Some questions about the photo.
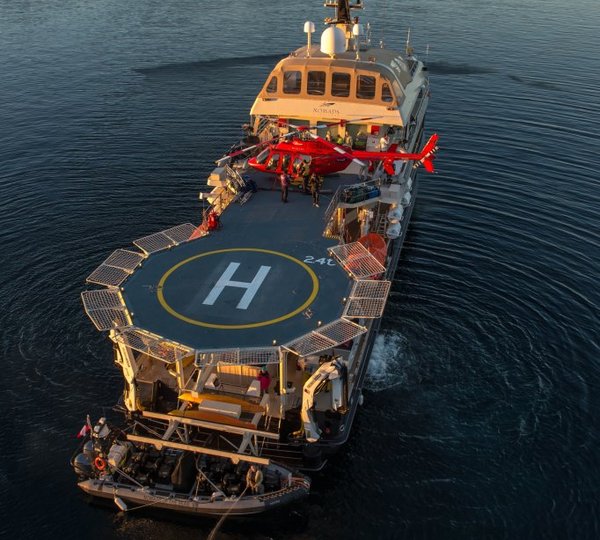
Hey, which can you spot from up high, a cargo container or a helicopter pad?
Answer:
helicopter pad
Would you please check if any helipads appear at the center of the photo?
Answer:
Yes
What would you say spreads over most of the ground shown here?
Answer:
water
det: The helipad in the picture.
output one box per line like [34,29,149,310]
[80,166,394,411]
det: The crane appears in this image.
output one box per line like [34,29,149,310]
[284,347,351,436]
